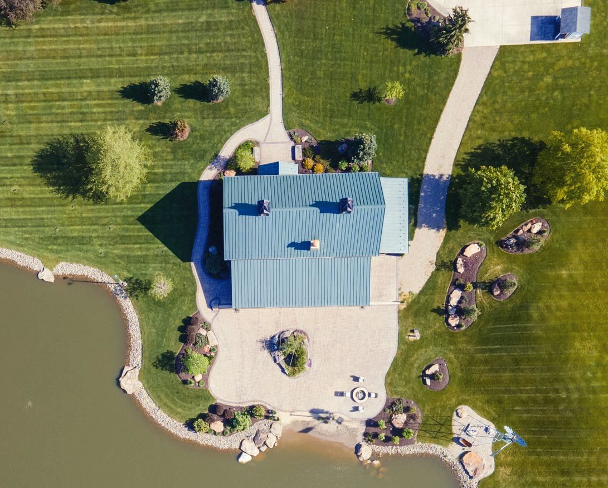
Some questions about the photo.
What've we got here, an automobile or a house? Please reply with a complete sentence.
I can see a house in this picture.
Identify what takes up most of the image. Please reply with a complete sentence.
The scene is dominated by grass.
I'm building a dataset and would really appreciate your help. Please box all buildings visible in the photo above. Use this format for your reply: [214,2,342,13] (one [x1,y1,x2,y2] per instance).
[223,161,408,310]
[557,3,592,40]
